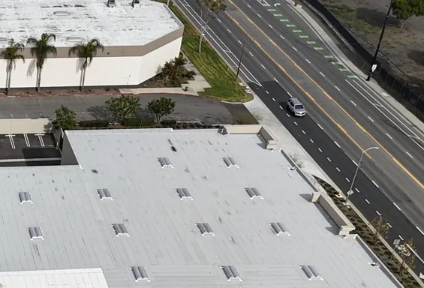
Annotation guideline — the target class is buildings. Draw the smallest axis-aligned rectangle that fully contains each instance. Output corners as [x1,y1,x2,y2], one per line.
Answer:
[0,0,190,87]
[0,126,404,288]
